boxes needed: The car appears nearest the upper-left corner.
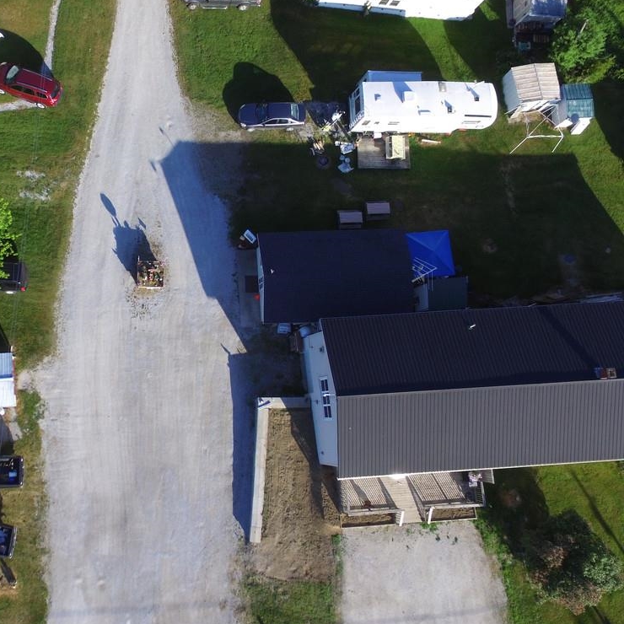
[0,60,66,111]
